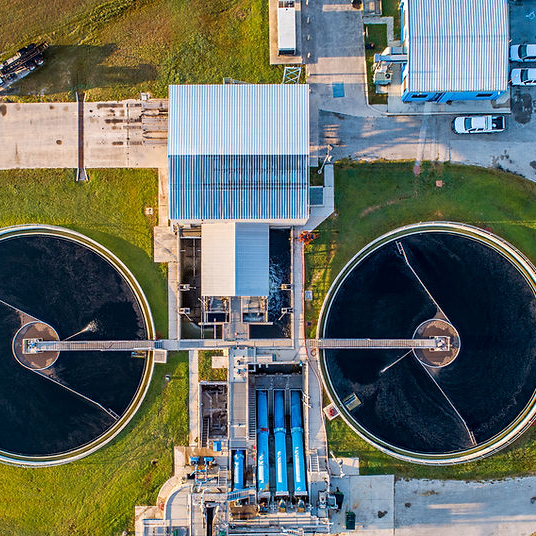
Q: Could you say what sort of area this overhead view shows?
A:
industrial area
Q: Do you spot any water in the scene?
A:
Yes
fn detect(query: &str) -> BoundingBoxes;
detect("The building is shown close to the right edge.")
[403,0,514,102]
